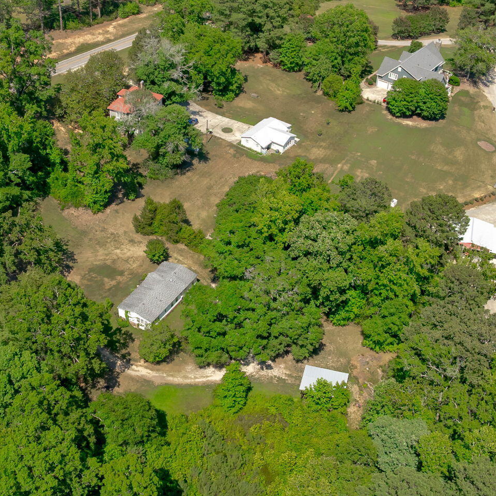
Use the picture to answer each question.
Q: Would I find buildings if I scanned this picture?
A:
Yes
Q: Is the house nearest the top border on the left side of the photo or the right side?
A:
right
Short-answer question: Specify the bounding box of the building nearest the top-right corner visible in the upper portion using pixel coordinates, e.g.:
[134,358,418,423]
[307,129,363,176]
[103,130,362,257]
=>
[376,34,459,94]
